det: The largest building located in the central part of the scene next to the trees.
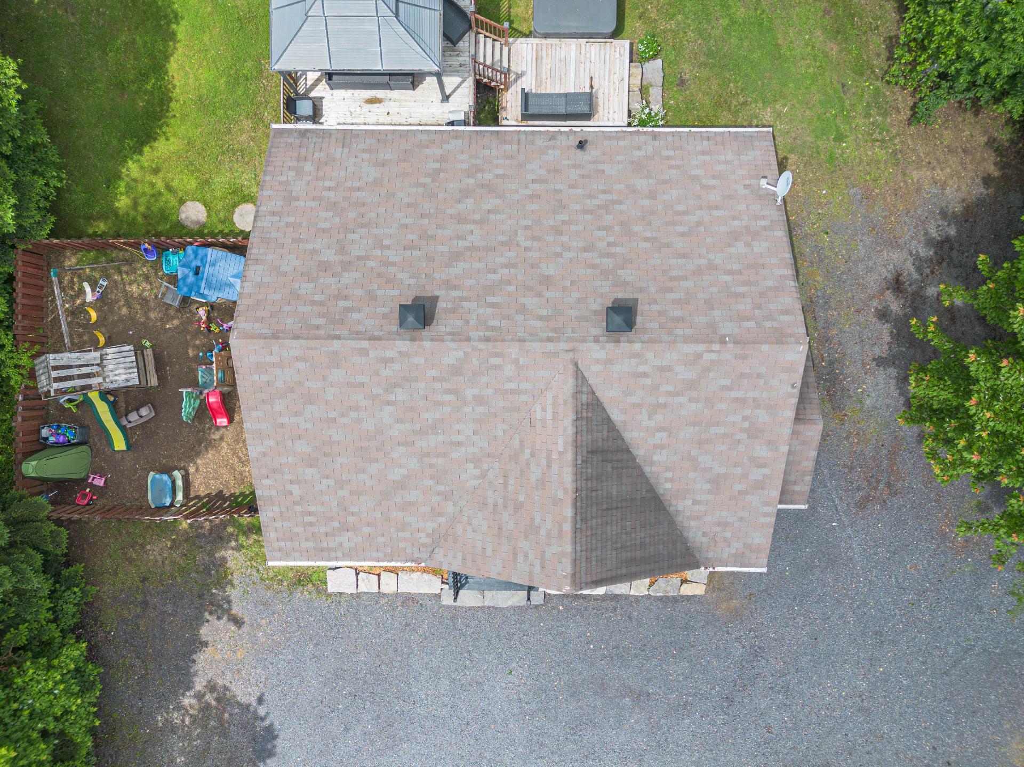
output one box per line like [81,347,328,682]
[231,123,823,591]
